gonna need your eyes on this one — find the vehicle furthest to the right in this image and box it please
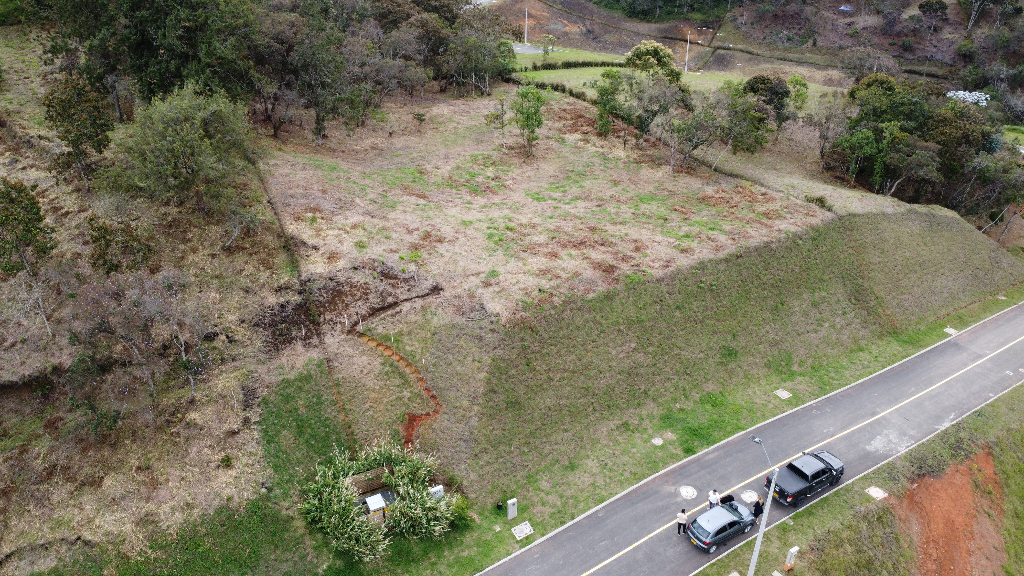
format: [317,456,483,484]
[756,449,847,511]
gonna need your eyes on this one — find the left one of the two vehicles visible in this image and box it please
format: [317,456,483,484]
[684,500,757,556]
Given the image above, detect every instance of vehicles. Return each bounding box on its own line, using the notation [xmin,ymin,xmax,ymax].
[756,449,847,511]
[684,500,757,556]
